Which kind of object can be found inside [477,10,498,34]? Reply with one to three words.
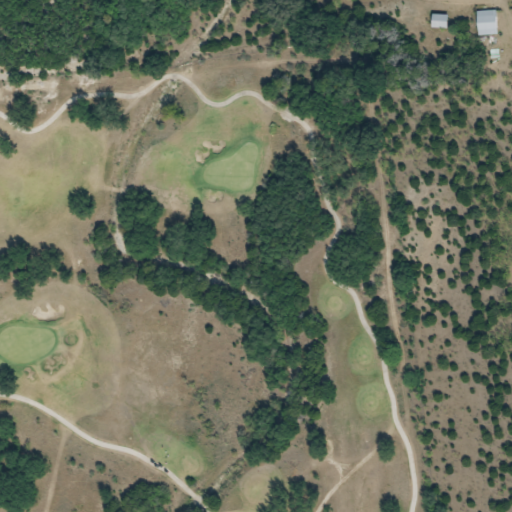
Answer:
barn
